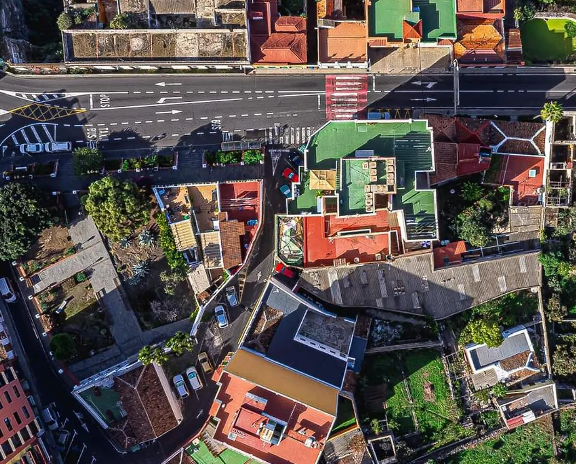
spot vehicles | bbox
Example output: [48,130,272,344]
[225,284,238,307]
[274,262,297,279]
[187,364,203,390]
[175,373,189,395]
[20,142,43,153]
[216,304,229,328]
[280,163,299,184]
[277,180,294,198]
[45,141,72,152]
[0,276,18,304]
[368,109,390,119]
[287,147,305,167]
[198,351,215,375]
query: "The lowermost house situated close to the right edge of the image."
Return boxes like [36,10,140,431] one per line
[497,376,560,429]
